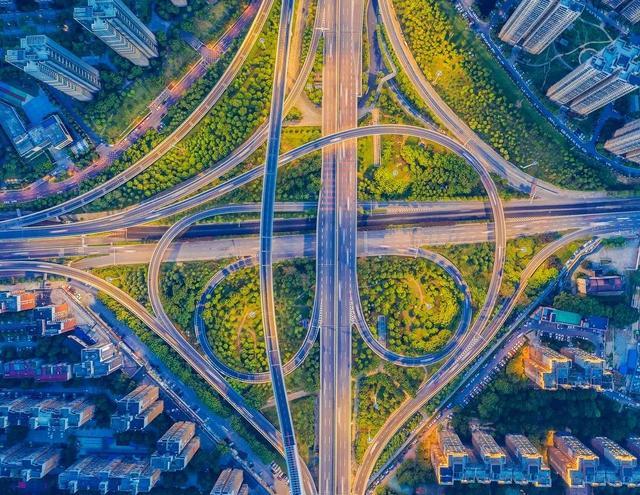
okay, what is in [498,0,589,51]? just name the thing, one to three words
building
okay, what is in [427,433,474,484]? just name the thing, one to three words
building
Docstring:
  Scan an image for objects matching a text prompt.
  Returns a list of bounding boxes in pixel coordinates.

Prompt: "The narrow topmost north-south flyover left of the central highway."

[259,0,302,495]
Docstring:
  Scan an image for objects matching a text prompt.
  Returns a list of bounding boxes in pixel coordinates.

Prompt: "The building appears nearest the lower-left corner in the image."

[0,445,60,482]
